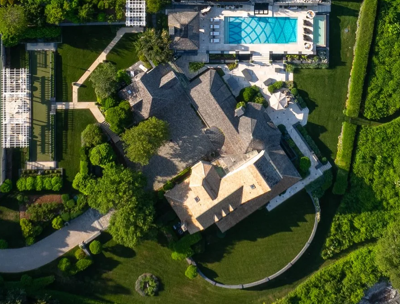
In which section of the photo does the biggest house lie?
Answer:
center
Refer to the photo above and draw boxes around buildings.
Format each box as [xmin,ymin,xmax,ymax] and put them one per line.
[118,59,302,248]
[167,12,199,50]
